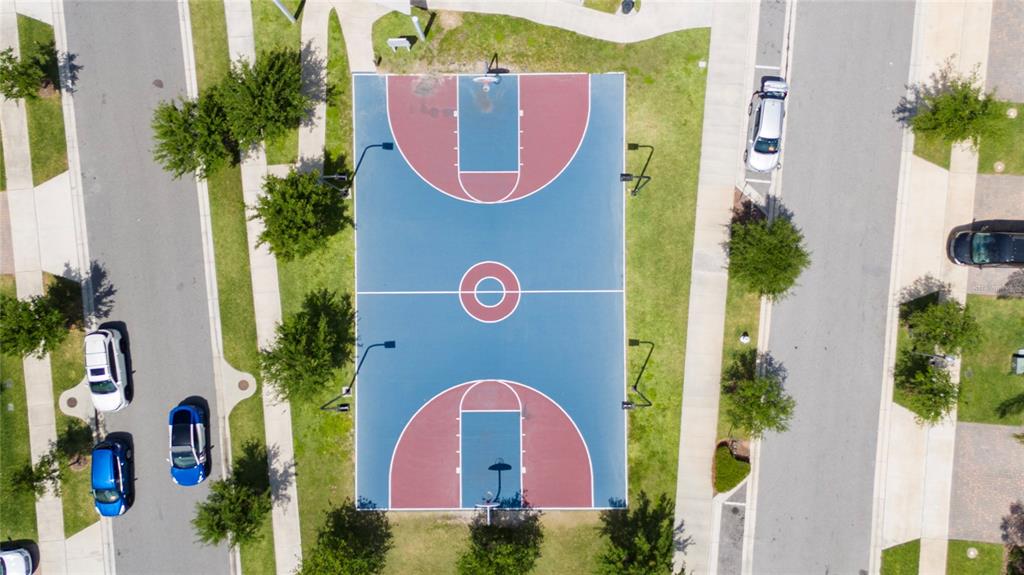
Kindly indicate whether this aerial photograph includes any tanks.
No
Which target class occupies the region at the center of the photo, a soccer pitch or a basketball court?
basketball court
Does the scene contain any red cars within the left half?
No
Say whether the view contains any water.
No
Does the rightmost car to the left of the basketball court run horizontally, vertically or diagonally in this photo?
vertically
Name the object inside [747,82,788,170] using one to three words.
car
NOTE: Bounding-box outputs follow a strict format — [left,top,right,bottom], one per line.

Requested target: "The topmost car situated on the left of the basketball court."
[84,329,131,411]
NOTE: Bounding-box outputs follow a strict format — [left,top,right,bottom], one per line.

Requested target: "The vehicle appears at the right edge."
[948,231,1024,269]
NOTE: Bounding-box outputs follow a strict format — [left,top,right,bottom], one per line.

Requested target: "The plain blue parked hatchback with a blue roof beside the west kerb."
[90,441,132,516]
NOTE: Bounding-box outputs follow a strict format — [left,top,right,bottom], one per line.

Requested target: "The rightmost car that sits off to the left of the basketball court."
[166,405,207,485]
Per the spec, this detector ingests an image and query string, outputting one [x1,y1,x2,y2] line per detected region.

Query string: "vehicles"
[166,405,207,485]
[0,549,33,575]
[90,441,132,516]
[84,329,131,411]
[747,82,788,170]
[948,231,1024,269]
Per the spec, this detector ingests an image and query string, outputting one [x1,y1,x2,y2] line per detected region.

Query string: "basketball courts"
[353,72,628,512]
